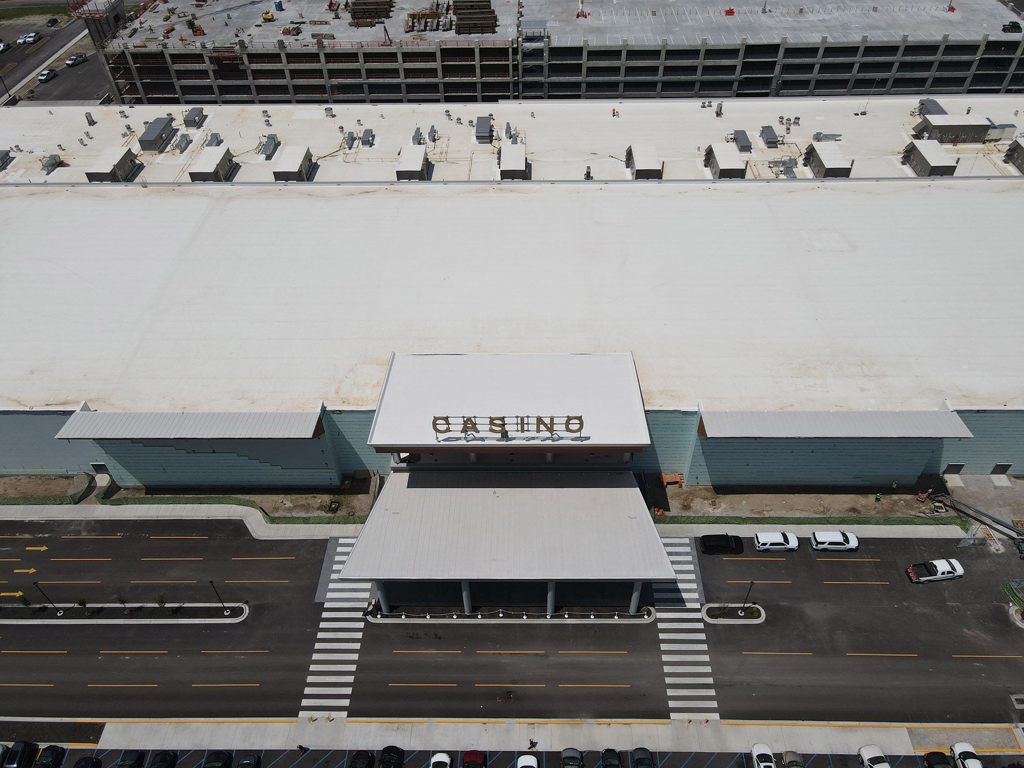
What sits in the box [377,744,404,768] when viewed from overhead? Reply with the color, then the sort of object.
black car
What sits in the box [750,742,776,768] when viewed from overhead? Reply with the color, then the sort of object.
white car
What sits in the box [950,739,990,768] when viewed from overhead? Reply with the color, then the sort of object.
white car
